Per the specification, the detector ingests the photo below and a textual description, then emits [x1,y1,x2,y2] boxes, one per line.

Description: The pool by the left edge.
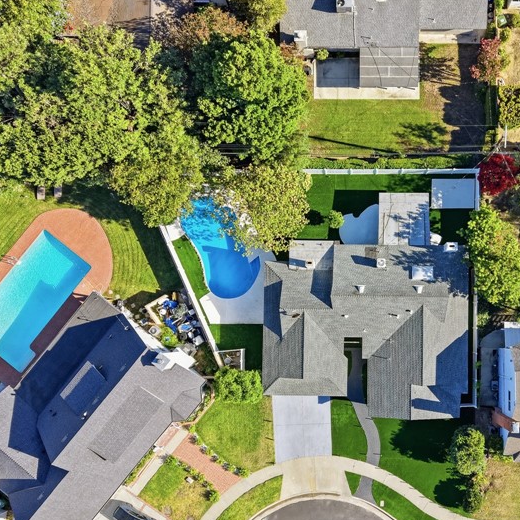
[0,229,92,373]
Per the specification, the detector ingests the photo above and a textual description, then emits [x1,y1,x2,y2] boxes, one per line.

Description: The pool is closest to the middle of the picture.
[179,195,262,300]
